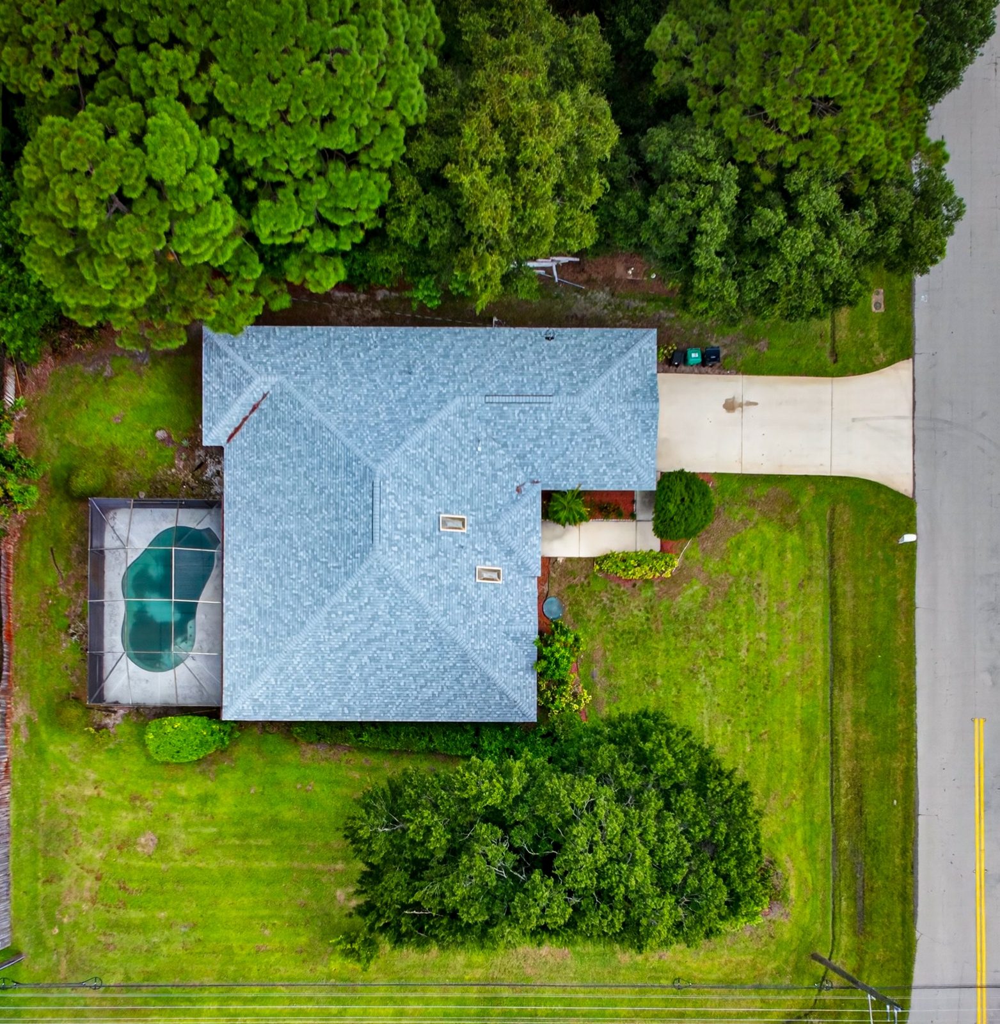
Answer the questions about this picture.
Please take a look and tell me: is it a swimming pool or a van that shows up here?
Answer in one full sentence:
There is a swimming pool in the scene.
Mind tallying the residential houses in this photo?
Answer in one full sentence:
My tally gives 1 residential house in this photo.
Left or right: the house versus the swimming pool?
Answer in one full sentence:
Relative to the swimming pool, the house is on the right.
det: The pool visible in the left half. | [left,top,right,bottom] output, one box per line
[119,523,220,674]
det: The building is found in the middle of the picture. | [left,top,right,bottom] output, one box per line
[202,310,660,722]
